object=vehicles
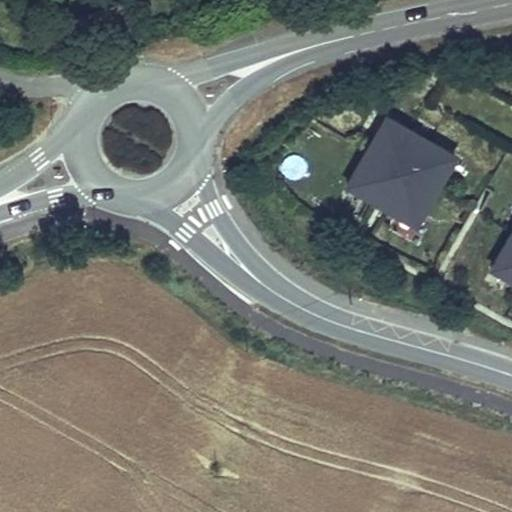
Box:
[405,8,427,20]
[92,190,114,200]
[8,201,31,214]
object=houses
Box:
[345,116,457,228]
[489,232,512,282]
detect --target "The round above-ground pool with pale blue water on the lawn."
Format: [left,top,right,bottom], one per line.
[276,152,310,182]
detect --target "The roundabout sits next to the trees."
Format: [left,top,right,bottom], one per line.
[61,62,215,216]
